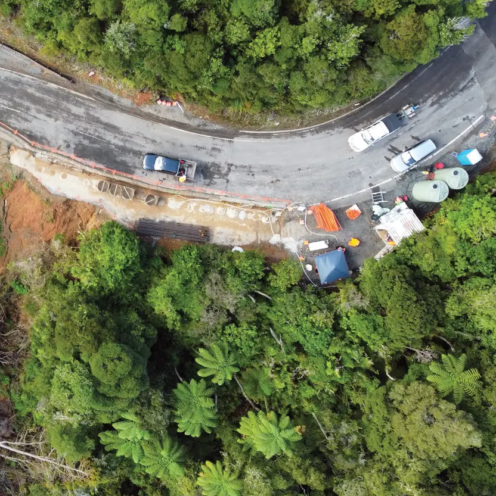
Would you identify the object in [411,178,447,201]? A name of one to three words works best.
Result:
water tank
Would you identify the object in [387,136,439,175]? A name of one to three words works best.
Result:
car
